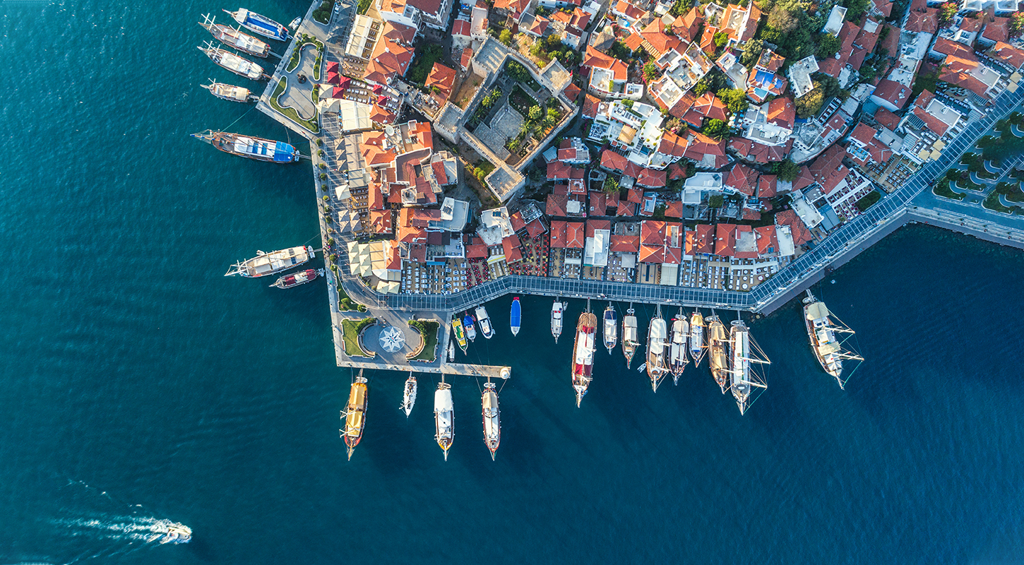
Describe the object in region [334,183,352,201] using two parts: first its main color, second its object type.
white umbrella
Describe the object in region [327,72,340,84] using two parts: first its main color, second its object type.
red umbrella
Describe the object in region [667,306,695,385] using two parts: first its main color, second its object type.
white boat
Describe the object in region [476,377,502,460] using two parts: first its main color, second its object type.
white boat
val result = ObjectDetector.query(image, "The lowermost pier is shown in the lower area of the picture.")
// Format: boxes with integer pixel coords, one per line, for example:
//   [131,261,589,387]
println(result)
[443,363,511,378]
